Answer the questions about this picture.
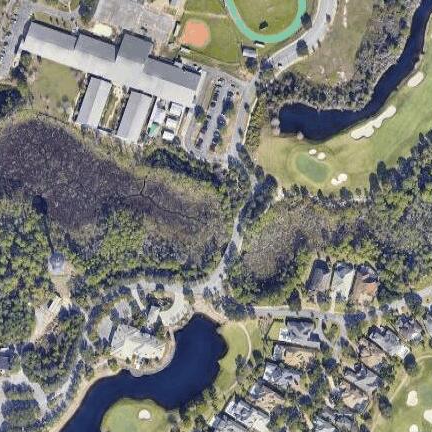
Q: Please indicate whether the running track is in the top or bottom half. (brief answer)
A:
top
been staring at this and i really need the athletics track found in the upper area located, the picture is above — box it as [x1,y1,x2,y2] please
[225,0,309,44]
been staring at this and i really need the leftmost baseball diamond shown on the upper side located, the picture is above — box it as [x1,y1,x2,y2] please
[180,0,246,64]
